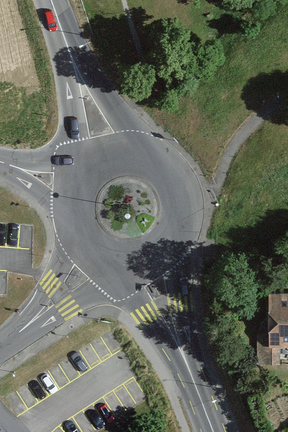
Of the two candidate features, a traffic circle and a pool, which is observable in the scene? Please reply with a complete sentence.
This aerial view contains a traffic circle.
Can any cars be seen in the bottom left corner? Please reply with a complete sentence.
Yes, the scene does show a car in the bottom left corner.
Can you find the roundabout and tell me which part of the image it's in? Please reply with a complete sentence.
The roundabout is located in the center region of the scene.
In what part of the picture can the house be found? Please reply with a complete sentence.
The house is located in the bottom right region of the scene.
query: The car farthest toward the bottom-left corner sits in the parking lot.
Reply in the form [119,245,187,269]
[28,379,47,400]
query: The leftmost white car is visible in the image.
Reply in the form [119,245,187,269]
[40,374,58,394]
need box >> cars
[70,116,80,139]
[65,420,80,432]
[97,404,114,424]
[87,410,105,432]
[28,379,47,400]
[8,223,19,246]
[71,351,89,373]
[52,156,74,166]
[0,223,6,246]
[40,374,58,394]
[44,10,58,32]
